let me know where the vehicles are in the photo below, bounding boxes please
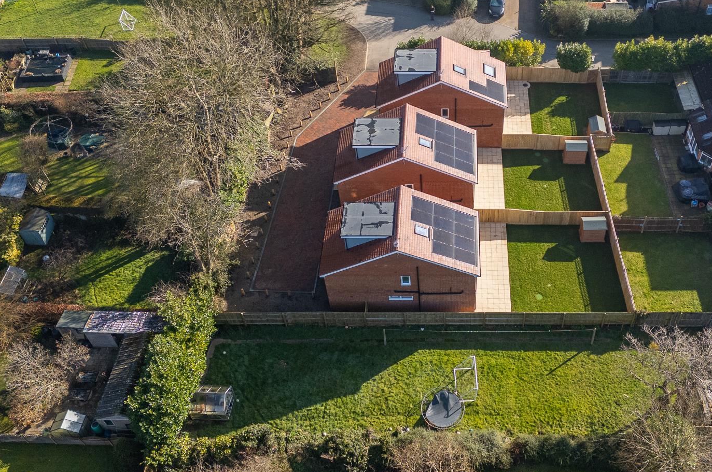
[488,0,506,17]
